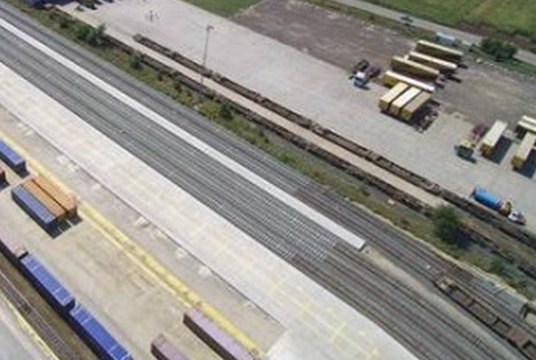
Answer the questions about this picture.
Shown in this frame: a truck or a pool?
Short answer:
truck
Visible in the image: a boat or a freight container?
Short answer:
freight container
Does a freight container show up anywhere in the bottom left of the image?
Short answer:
Yes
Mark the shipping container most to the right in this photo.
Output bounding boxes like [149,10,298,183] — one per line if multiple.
[184,308,253,360]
